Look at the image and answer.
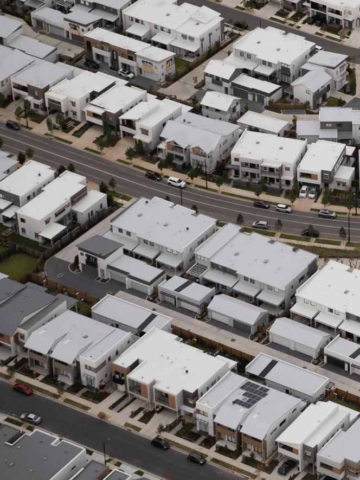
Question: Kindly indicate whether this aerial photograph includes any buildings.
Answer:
Yes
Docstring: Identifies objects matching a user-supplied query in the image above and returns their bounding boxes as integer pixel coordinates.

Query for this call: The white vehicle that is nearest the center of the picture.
[167,176,187,188]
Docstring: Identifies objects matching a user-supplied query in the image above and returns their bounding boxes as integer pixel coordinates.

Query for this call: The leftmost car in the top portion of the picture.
[3,119,22,131]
